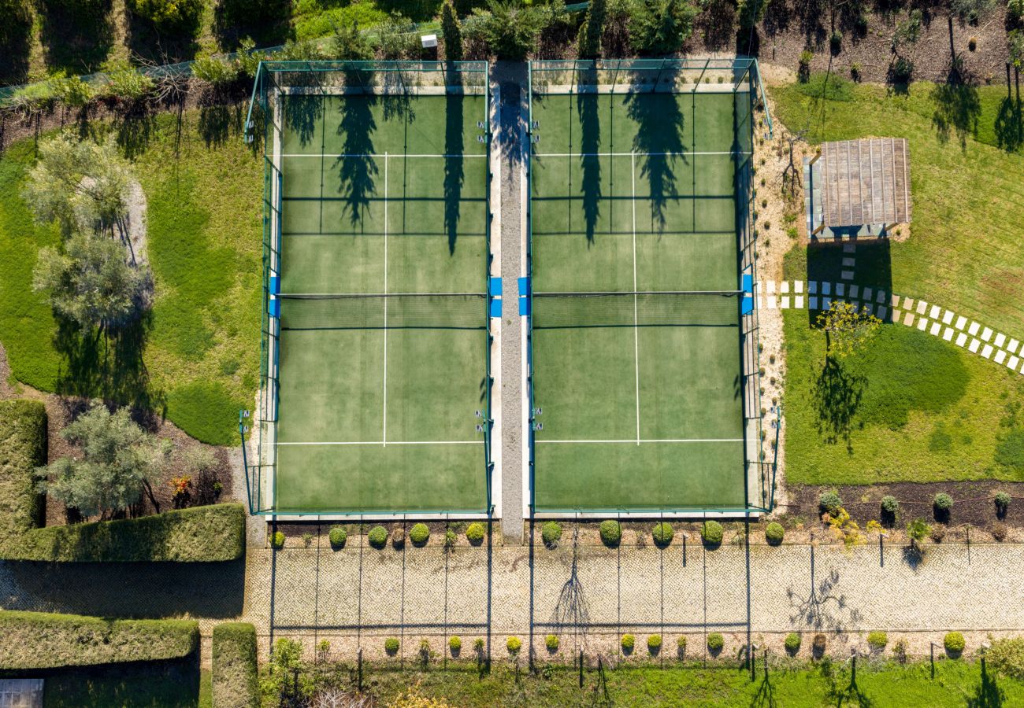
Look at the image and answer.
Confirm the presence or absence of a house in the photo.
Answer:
No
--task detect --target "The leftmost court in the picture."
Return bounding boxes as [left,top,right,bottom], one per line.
[238,55,503,521]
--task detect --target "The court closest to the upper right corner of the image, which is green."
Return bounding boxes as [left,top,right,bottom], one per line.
[517,54,784,519]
